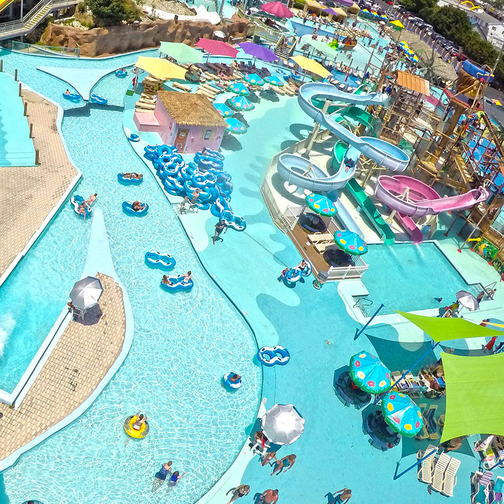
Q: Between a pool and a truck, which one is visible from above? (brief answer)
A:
pool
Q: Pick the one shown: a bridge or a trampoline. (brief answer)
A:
bridge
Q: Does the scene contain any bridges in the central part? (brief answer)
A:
No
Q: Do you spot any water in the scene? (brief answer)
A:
Yes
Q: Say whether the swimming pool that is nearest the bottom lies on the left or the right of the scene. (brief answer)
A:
right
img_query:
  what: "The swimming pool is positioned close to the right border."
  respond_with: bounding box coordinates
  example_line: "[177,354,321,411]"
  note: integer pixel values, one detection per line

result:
[352,243,490,317]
